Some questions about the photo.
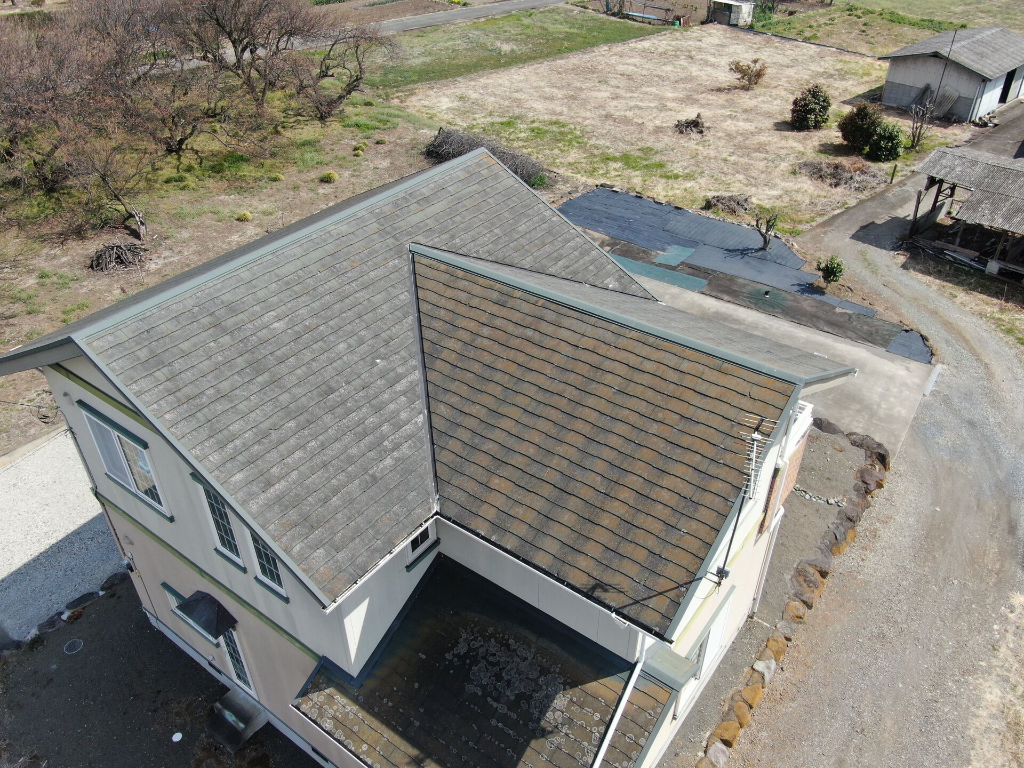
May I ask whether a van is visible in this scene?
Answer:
No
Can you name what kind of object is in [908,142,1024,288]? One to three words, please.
barn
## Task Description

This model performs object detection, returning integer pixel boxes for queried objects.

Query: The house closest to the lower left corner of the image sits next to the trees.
[0,148,862,768]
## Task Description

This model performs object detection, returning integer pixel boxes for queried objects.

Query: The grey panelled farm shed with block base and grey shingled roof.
[879,21,1024,124]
